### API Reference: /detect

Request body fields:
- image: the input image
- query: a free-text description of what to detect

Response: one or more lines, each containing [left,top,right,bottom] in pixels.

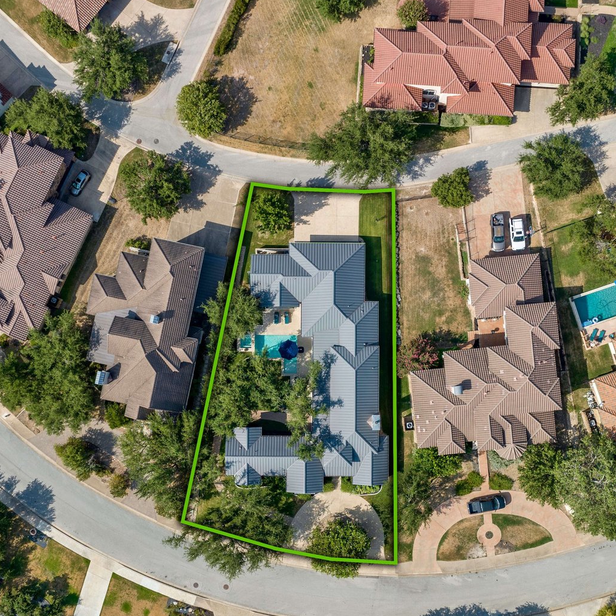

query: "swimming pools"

[572,284,616,330]
[238,333,300,376]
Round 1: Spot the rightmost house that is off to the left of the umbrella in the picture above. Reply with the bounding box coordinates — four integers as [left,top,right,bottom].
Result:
[87,238,227,422]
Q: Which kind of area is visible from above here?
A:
residential area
